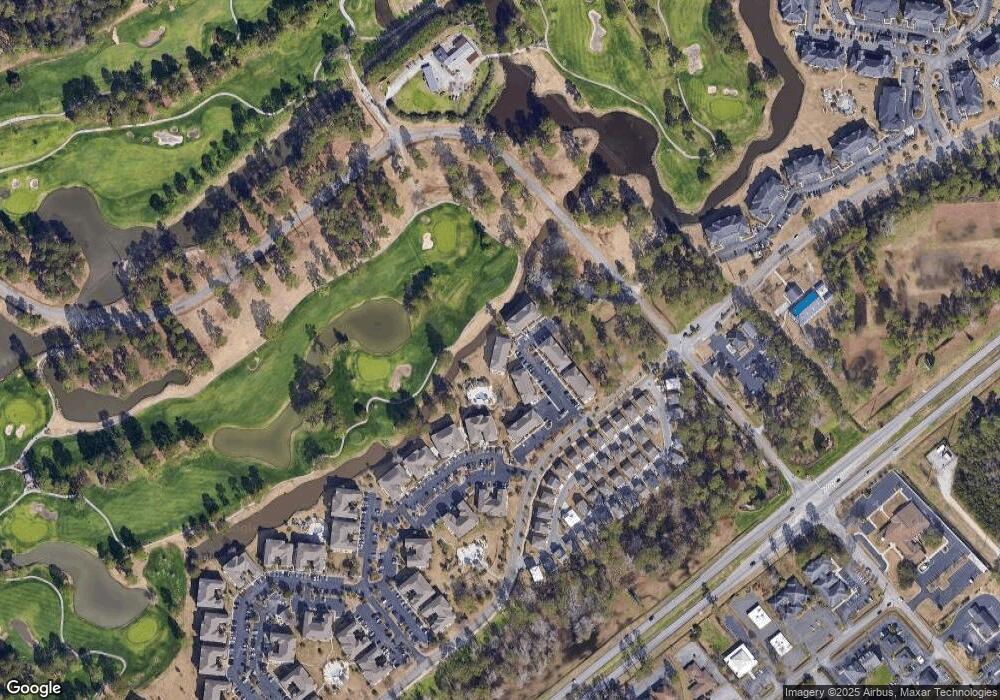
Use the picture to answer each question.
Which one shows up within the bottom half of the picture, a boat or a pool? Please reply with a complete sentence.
It is a pool that can be seen within the bottom half of the picture.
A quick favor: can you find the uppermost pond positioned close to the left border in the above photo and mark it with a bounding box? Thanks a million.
[37,186,226,306]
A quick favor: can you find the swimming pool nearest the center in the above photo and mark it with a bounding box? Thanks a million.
[466,386,496,407]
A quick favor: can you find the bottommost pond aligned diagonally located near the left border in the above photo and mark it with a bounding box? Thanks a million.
[0,541,150,628]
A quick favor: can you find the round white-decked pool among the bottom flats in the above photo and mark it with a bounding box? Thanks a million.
[323,661,349,685]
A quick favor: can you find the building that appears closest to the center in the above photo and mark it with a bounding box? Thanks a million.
[490,337,512,377]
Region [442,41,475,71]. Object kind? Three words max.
barn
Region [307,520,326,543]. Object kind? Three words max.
swimming pool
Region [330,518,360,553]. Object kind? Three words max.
building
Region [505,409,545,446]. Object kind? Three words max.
building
